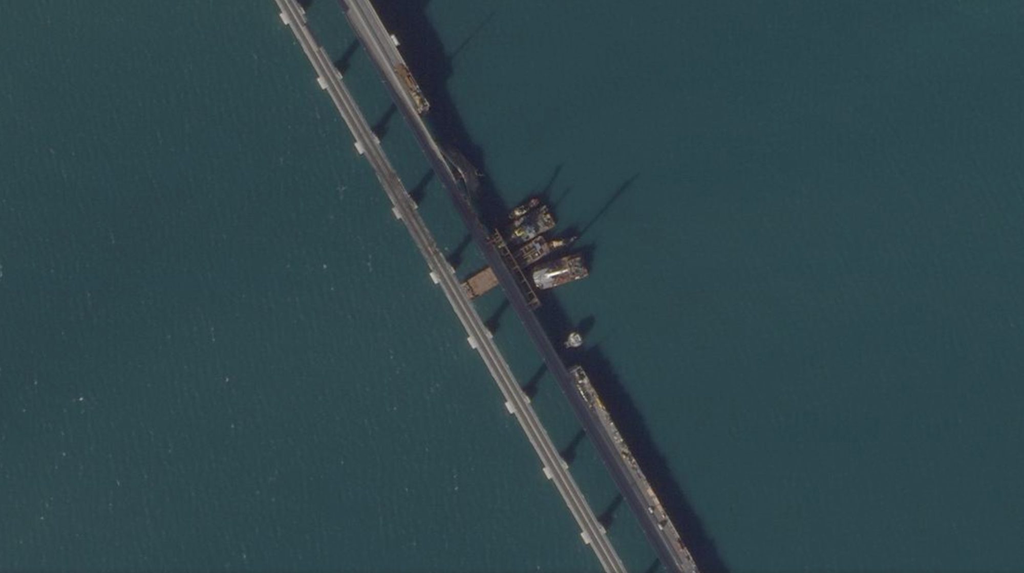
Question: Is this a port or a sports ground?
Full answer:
The area seen from above is a port.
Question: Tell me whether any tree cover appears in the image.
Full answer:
No, no tree cover is visible.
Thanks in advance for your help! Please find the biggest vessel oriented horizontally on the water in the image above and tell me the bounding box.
[534,257,587,288]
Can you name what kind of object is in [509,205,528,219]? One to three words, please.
boat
